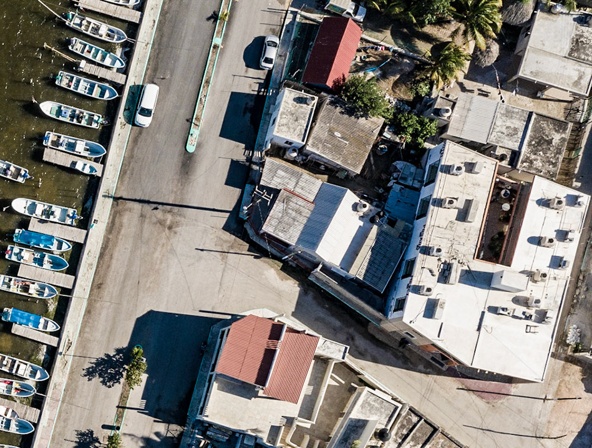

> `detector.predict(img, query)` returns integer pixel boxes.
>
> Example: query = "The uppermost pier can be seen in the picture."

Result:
[77,0,143,25]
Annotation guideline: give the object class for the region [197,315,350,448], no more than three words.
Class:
house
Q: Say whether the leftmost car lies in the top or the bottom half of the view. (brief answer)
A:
top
